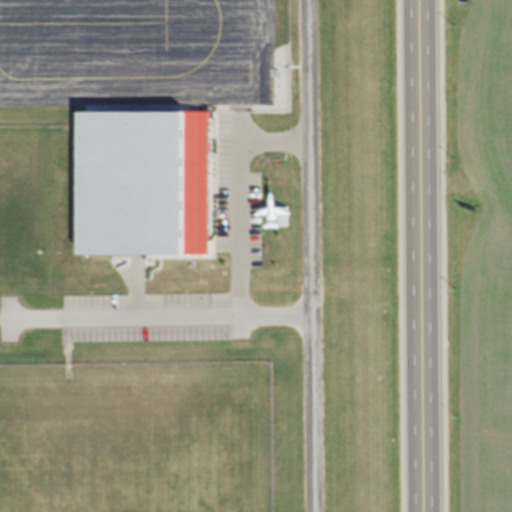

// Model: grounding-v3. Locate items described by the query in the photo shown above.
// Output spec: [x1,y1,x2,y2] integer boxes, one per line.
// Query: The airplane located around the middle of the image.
[252,191,290,232]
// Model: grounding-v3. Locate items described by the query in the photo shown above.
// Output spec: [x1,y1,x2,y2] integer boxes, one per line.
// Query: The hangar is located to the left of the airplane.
[74,110,209,258]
